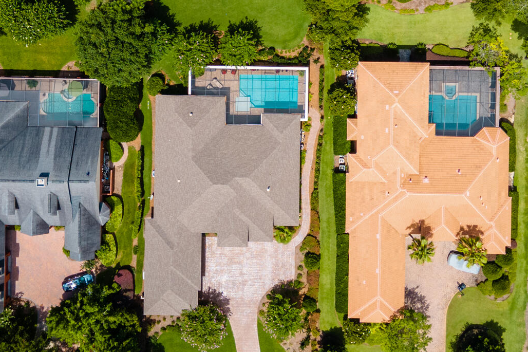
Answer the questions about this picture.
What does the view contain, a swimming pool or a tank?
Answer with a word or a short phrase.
swimming pool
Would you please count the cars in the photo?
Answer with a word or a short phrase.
2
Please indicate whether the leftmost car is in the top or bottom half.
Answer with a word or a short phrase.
bottom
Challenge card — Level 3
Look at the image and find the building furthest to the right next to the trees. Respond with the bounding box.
[345,62,512,323]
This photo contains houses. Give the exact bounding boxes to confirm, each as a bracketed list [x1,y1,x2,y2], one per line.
[345,62,512,323]
[0,99,114,310]
[141,95,300,315]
